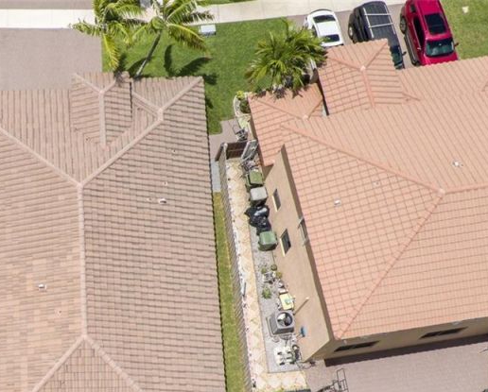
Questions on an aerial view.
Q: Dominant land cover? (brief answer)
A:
buildings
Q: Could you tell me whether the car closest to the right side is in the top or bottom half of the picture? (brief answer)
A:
top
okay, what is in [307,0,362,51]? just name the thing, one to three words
car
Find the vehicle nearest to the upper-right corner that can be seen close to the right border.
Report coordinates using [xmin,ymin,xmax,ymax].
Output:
[404,0,466,64]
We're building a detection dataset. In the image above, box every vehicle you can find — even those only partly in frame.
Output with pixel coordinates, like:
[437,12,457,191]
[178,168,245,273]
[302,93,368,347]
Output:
[307,0,362,51]
[357,0,421,68]
[404,0,466,64]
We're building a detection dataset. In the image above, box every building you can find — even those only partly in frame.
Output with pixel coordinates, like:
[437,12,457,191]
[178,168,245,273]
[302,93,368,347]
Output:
[246,37,488,358]
[0,70,227,392]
